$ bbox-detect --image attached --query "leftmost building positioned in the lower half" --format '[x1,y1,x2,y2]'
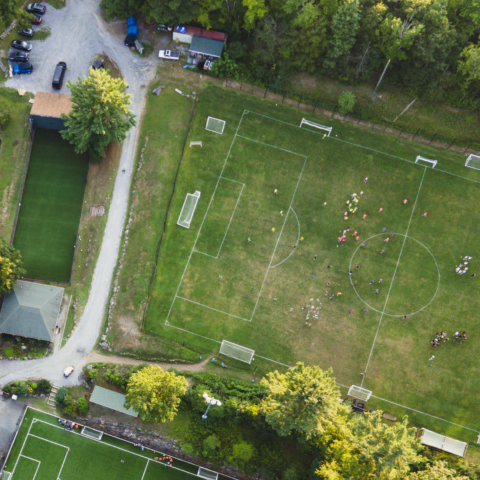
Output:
[0,280,64,343]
